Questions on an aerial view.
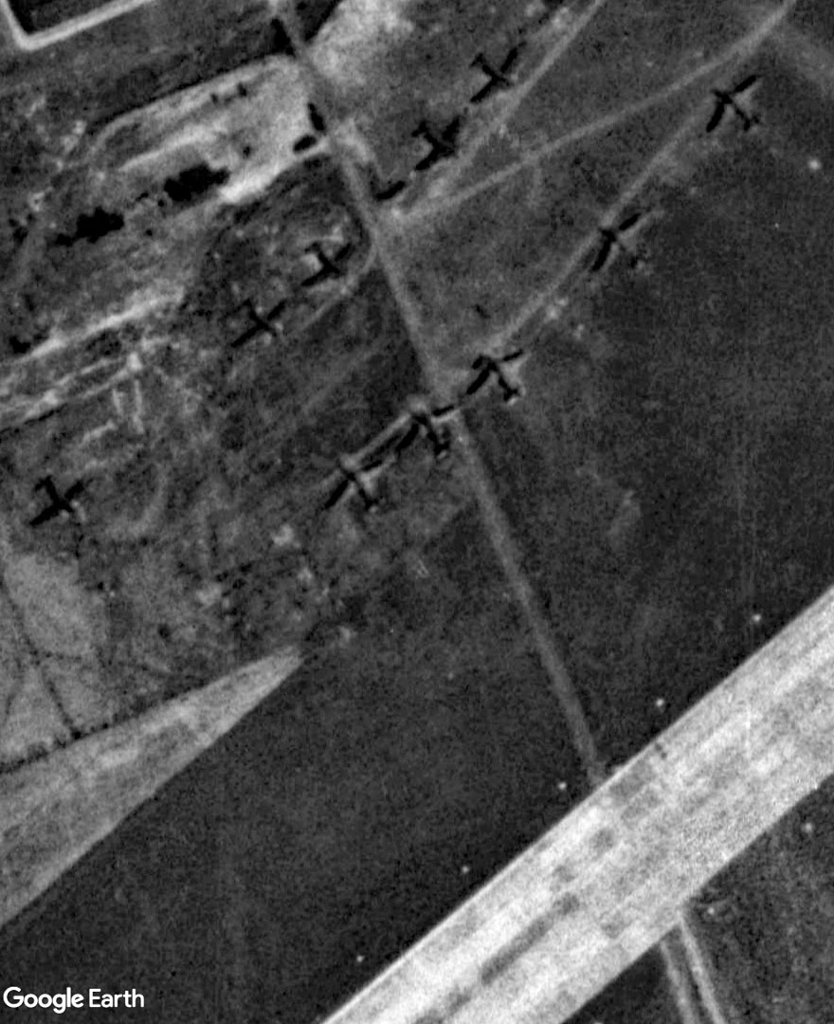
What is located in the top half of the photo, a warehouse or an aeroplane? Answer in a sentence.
It is an aeroplane that can be seen in the top half of the photo.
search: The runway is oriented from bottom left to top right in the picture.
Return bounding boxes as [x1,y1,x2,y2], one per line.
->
[321,590,834,1024]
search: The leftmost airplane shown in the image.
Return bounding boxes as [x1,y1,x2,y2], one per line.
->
[31,479,86,523]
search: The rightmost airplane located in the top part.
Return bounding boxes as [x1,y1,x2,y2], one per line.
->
[713,77,768,134]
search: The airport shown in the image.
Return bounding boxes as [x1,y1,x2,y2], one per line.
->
[0,590,834,1024]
